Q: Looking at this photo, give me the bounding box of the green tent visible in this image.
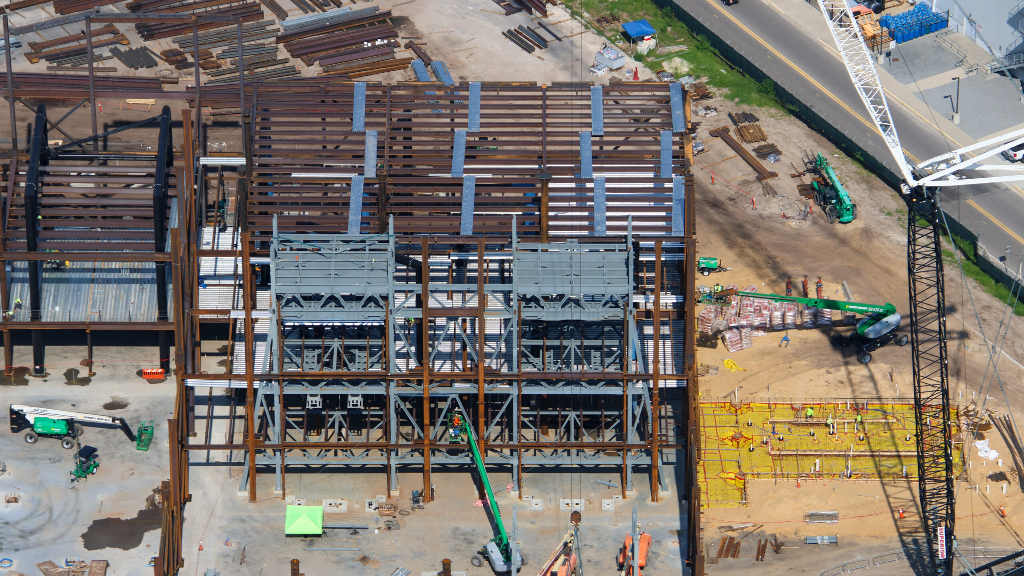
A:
[285,505,324,555]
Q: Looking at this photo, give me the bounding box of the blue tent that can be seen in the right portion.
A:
[622,20,656,58]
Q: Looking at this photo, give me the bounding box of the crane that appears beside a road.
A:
[808,0,1024,576]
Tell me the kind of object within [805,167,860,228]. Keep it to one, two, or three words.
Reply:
work vehicle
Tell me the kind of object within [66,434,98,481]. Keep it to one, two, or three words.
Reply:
trailer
